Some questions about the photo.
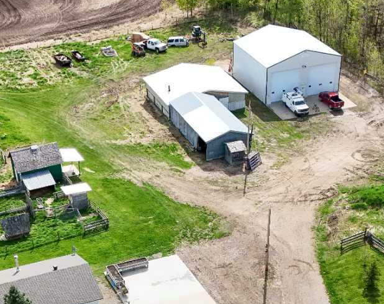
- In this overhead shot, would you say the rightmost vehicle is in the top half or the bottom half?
top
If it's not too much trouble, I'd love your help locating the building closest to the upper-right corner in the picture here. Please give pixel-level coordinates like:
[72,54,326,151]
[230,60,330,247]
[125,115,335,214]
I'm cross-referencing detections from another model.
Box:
[233,24,342,104]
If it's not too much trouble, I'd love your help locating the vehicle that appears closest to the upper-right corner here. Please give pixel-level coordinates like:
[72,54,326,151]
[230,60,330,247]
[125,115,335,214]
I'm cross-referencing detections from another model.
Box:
[314,89,346,109]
